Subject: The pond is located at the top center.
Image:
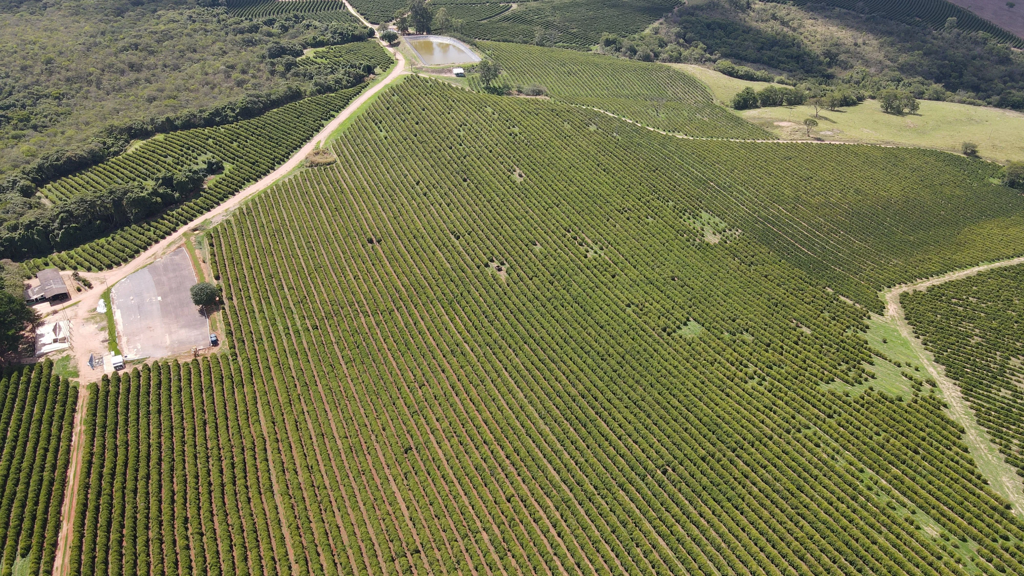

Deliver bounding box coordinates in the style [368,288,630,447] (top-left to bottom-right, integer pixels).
[402,36,483,65]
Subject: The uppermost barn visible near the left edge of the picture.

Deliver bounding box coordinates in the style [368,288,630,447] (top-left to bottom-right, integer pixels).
[21,266,69,310]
